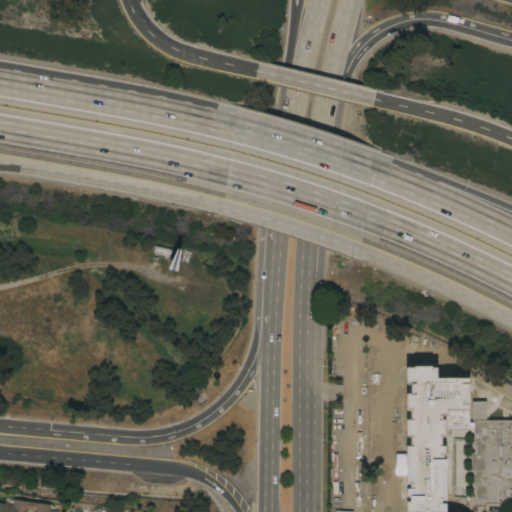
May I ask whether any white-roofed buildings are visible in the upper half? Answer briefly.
No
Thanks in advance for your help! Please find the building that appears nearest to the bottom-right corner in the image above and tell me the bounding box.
[473,421,512,508]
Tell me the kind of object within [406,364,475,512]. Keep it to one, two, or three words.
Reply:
building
